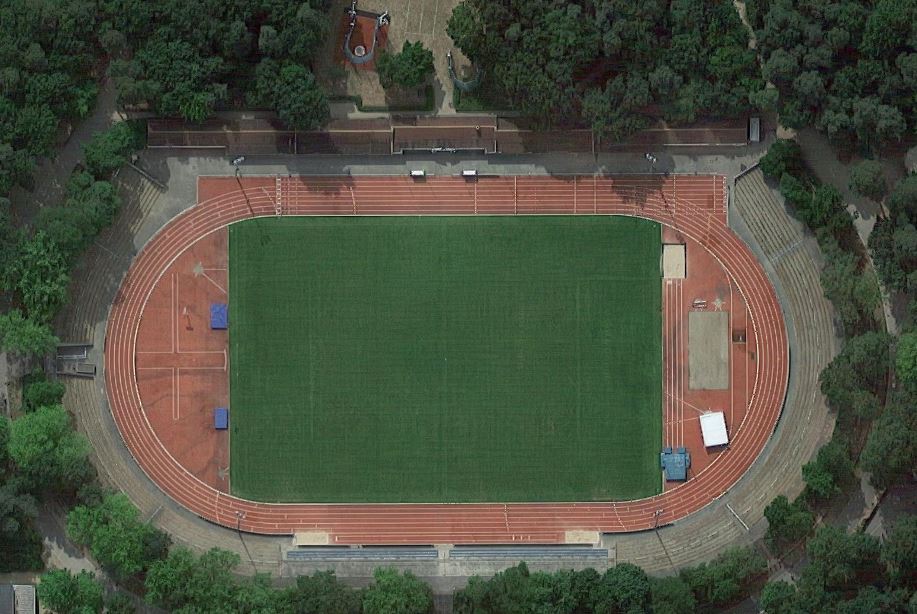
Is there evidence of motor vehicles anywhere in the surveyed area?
No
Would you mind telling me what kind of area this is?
sports ground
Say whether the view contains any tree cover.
Yes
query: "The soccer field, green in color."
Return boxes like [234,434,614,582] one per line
[228,217,664,503]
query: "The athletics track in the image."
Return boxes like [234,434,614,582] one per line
[104,176,787,545]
